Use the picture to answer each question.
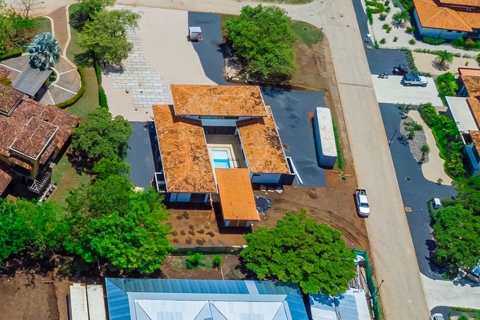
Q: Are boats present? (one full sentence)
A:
No, there isn't any boat down there.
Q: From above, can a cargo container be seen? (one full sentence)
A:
Yes, looking at the shot, I can spot a cargo container.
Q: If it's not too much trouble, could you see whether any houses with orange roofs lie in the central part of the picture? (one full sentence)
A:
Yes, looking in the central part of the picture, one can make out a house with an orange roof.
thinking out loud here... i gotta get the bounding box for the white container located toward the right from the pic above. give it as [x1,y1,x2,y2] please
[311,107,337,168]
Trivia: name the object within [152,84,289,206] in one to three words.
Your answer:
house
